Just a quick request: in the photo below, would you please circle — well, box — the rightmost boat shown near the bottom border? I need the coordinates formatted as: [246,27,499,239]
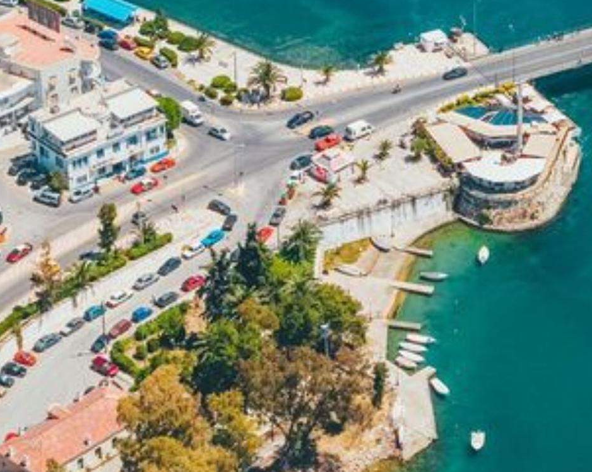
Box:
[471,430,485,451]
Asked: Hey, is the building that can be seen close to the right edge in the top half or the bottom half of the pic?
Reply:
top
